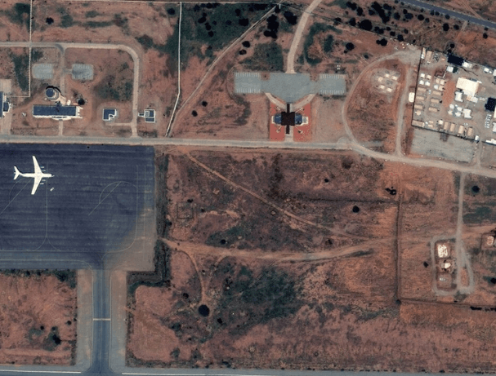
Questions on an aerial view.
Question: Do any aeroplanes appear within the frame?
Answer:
Yes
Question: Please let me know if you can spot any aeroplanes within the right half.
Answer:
No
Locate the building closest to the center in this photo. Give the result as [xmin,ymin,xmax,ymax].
[271,104,309,134]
